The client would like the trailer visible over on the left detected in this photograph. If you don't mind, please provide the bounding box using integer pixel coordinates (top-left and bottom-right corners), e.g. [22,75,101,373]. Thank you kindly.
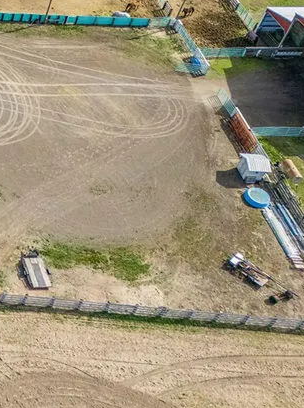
[23,242,58,292]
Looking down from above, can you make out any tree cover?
No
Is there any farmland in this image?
Yes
